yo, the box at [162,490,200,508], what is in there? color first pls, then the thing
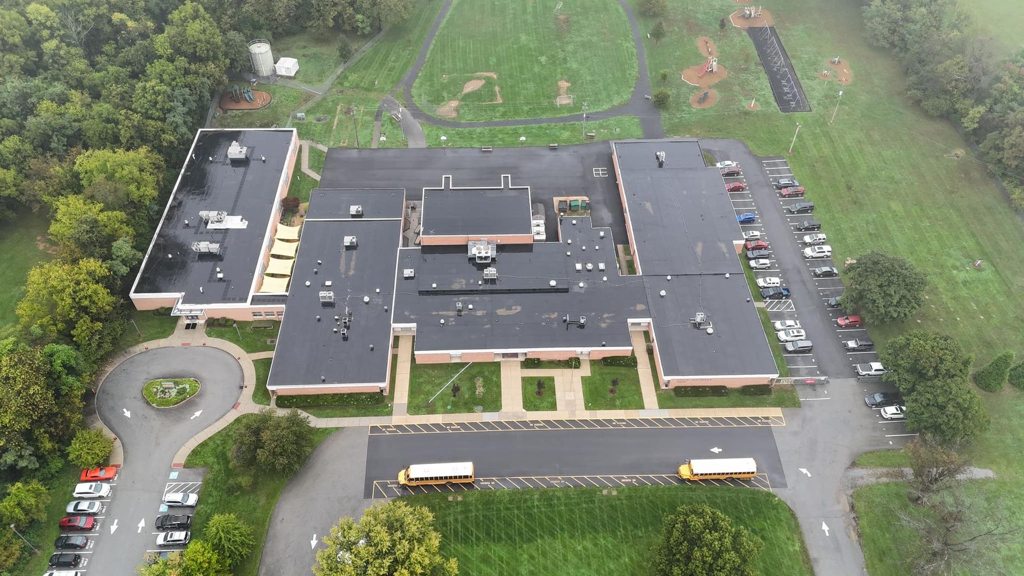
white car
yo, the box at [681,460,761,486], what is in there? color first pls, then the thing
white bus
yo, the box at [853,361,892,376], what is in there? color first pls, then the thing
white vehicle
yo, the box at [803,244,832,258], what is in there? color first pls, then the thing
white car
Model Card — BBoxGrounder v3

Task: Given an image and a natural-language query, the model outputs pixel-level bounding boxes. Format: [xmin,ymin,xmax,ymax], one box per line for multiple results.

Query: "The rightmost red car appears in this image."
[835,314,864,328]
